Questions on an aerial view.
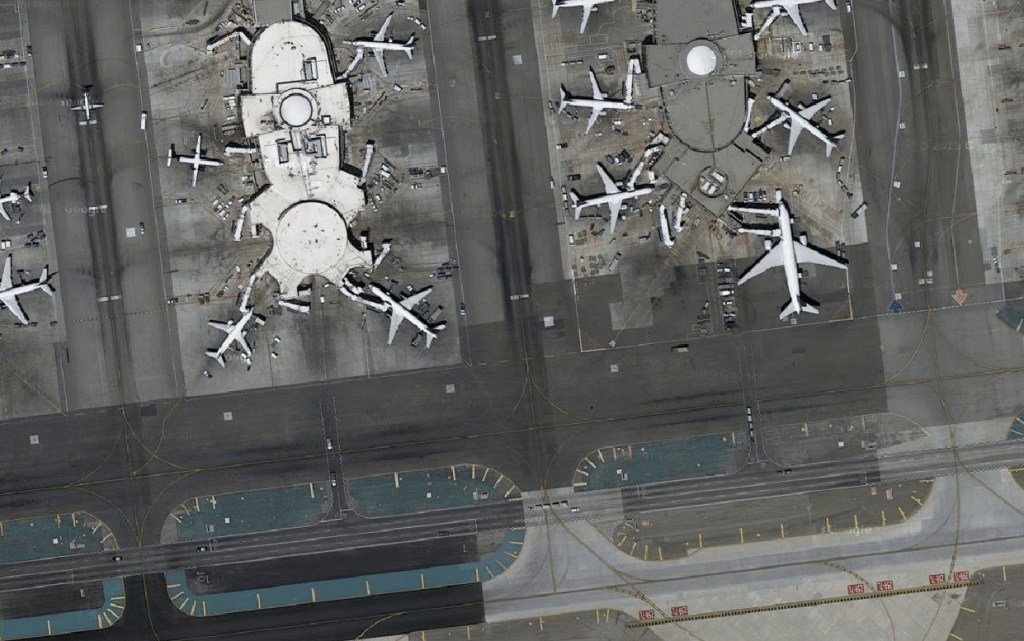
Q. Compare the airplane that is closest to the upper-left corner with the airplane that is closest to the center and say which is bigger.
the airplane that is closest to the center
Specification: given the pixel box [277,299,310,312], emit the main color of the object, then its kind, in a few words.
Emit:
white jet bridge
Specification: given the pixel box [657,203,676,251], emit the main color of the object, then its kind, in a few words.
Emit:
white jet bridge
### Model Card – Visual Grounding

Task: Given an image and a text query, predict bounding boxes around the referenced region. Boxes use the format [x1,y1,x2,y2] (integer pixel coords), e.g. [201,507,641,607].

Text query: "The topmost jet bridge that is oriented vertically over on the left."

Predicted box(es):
[358,140,374,187]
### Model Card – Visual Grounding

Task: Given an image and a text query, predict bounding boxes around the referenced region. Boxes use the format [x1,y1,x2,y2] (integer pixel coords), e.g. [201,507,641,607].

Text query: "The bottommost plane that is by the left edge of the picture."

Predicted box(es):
[0,258,50,325]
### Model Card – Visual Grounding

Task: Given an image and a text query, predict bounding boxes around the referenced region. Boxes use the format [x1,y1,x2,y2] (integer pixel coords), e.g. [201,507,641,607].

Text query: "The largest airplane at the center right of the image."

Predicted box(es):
[739,199,848,318]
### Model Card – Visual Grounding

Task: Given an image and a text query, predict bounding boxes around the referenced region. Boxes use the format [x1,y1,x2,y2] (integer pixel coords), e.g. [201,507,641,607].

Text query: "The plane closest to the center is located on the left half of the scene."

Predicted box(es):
[370,285,445,348]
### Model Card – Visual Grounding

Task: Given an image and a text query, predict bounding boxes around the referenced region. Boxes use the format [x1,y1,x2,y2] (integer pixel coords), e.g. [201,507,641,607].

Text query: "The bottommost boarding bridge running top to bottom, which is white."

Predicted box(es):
[241,272,258,313]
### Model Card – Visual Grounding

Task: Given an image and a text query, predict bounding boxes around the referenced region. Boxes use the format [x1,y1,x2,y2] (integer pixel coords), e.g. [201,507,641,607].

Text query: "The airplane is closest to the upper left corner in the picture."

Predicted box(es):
[71,88,104,120]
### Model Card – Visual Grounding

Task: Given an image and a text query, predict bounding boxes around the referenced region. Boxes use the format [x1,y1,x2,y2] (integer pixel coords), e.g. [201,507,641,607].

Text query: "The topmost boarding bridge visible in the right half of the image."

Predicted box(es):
[753,5,780,41]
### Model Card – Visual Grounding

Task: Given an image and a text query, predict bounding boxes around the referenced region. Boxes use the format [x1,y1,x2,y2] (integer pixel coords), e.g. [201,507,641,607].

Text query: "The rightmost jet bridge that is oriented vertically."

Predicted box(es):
[742,94,757,134]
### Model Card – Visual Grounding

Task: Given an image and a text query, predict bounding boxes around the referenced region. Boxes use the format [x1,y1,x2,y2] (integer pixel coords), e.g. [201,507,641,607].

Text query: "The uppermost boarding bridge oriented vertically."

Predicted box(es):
[625,57,642,107]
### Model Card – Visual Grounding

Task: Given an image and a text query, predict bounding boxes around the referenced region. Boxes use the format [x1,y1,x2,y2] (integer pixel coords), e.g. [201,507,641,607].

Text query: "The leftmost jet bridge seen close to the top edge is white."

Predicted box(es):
[208,30,253,54]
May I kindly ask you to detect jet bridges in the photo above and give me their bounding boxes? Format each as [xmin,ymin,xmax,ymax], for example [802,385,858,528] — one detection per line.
[742,94,757,134]
[725,204,779,216]
[232,202,249,243]
[241,272,258,313]
[657,203,676,251]
[753,5,780,41]
[358,140,374,187]
[277,299,310,312]
[373,239,389,270]
[675,192,687,236]
[338,286,390,311]
[342,276,368,295]
[222,146,260,157]
[628,159,647,194]
[625,57,642,107]
[208,30,253,54]
[736,227,783,237]
[749,109,792,139]
[337,45,362,81]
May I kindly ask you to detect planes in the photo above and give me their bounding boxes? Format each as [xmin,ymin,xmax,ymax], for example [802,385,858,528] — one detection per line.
[166,135,224,187]
[370,285,445,348]
[71,88,104,120]
[0,258,50,325]
[558,67,626,134]
[353,15,418,77]
[739,199,848,318]
[208,308,253,365]
[751,0,807,35]
[553,0,611,34]
[568,167,652,235]
[767,97,845,157]
[0,181,34,223]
